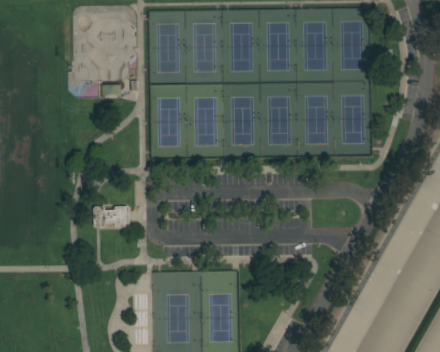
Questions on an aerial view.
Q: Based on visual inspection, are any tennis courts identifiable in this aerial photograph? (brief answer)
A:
Yes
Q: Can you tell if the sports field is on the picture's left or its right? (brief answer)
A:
left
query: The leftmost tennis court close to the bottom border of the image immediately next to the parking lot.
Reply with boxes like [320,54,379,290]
[153,272,202,352]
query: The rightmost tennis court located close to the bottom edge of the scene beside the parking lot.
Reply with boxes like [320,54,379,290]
[202,272,239,352]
